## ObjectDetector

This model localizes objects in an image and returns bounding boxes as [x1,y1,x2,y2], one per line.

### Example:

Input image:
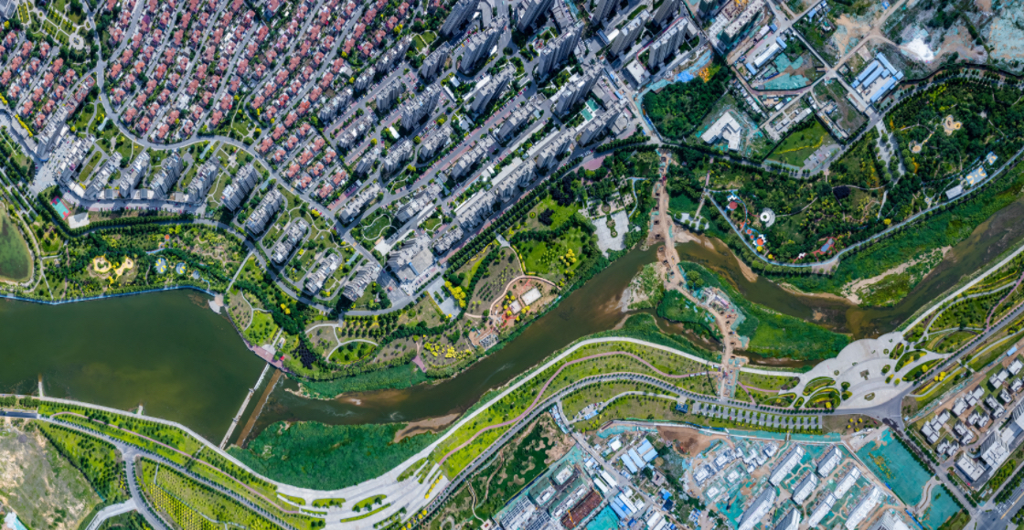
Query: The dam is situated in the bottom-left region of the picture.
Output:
[219,364,282,447]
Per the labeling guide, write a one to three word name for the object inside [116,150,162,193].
building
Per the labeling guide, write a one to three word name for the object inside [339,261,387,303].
building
